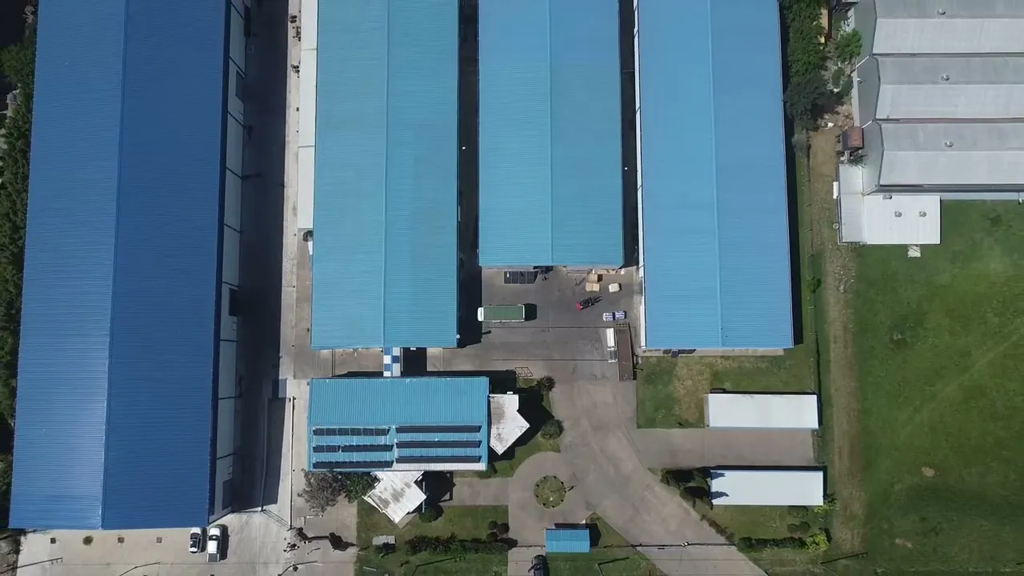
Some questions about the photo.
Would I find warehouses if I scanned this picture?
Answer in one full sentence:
Yes, a warehouse appears in the view.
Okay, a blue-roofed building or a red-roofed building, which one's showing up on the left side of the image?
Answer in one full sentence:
You can see a blue-roofed building on the left side of the image.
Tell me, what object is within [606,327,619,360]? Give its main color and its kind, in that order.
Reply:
white vehicle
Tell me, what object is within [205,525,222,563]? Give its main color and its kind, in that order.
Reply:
white vehicle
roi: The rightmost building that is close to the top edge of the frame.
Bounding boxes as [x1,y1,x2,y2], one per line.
[854,0,1024,209]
